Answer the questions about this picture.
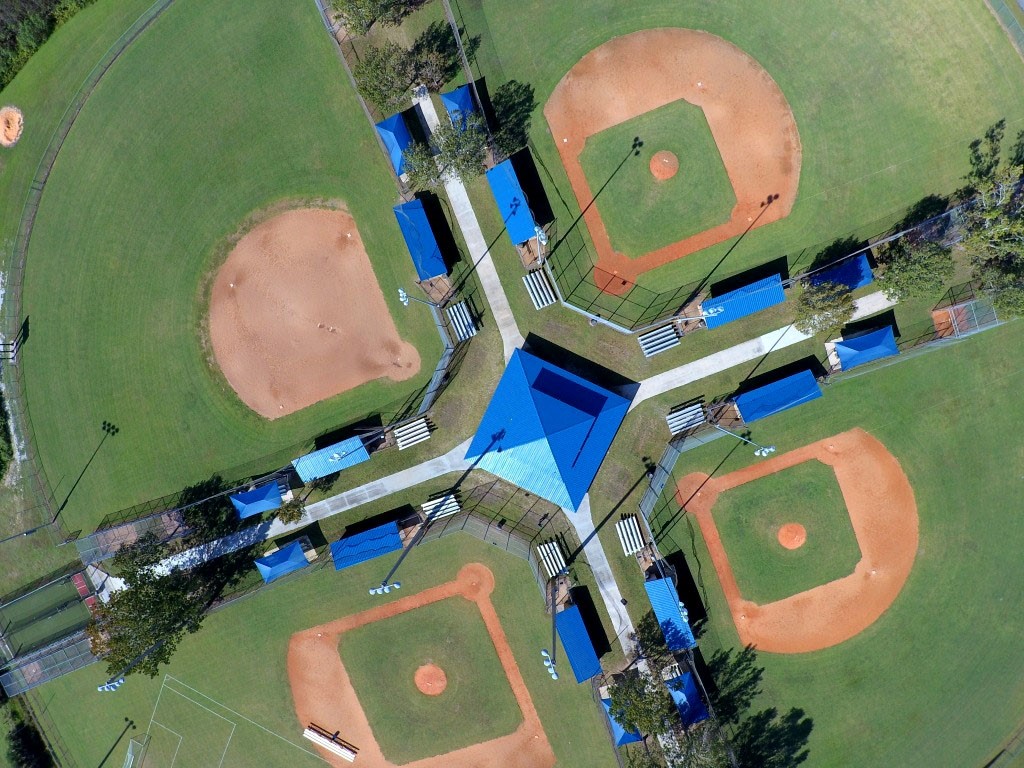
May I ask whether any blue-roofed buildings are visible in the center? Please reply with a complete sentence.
Yes, the scene does show a blue-roofed building in the center.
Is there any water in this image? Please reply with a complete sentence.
No, the picture contains no water.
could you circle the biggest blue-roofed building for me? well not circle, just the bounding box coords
[464,348,630,513]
